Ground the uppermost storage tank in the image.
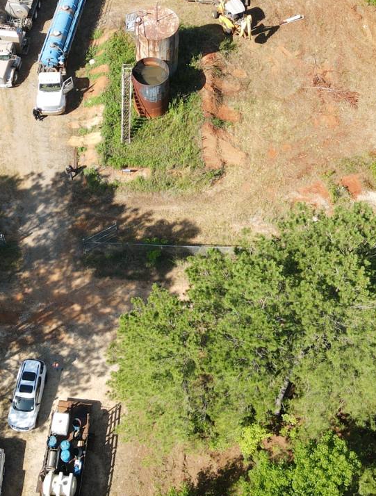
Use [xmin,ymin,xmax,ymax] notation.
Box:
[135,9,178,71]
